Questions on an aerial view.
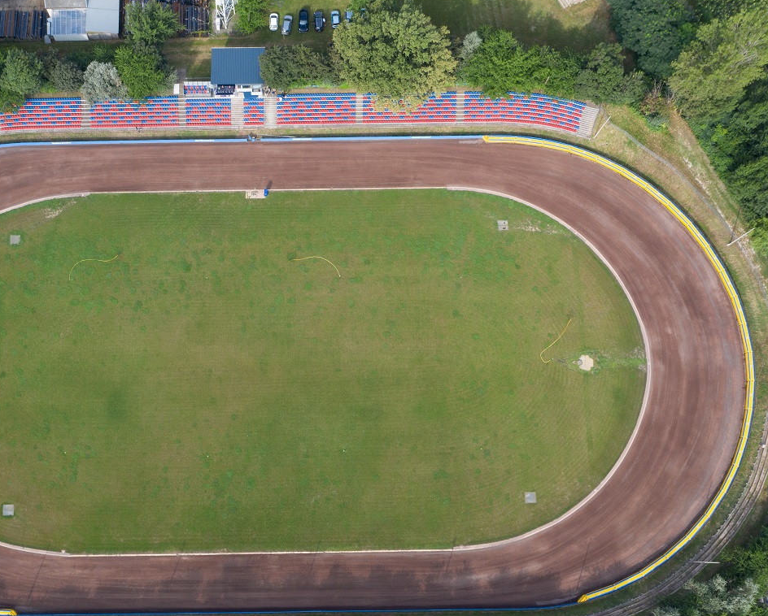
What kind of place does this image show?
sports ground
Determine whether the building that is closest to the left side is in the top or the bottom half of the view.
top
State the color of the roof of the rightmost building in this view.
blue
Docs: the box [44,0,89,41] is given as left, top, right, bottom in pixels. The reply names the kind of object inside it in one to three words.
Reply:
building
